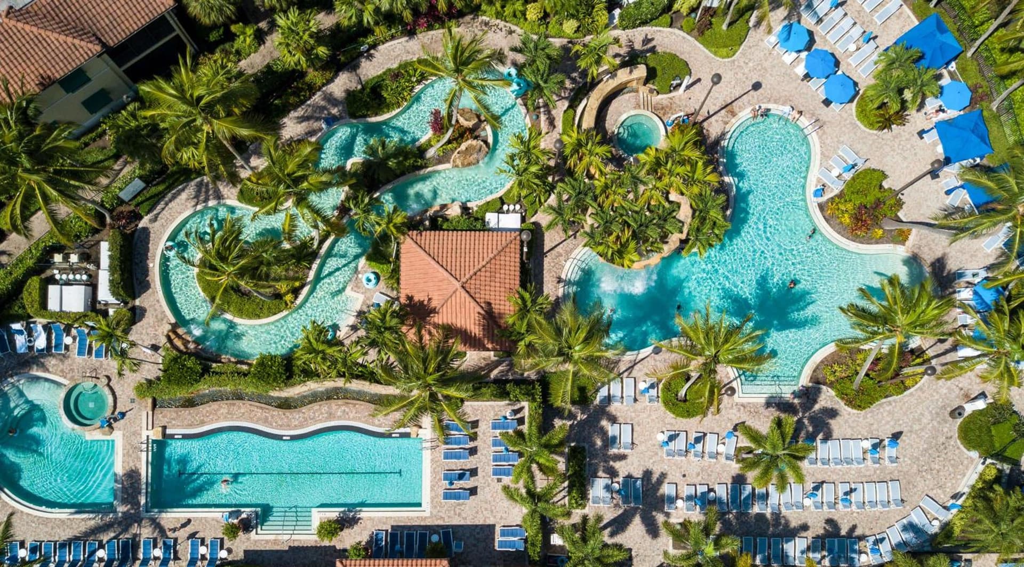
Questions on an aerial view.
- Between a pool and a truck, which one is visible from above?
pool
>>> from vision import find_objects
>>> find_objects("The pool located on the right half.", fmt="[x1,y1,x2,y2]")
[570,114,931,392]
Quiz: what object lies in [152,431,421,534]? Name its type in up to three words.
swimming pool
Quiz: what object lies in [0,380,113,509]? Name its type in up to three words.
swimming pool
